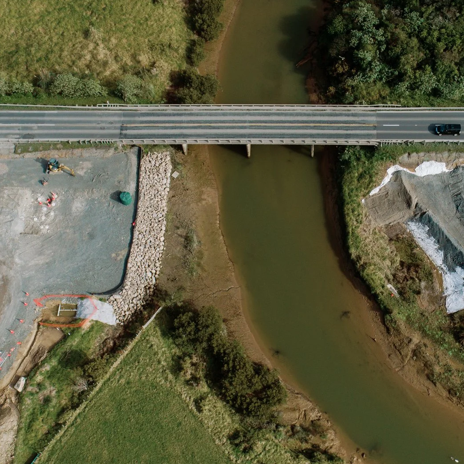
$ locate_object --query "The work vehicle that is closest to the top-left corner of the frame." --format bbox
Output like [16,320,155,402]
[45,161,70,180]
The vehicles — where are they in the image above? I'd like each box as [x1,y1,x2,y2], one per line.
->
[437,122,463,135]
[45,161,70,180]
